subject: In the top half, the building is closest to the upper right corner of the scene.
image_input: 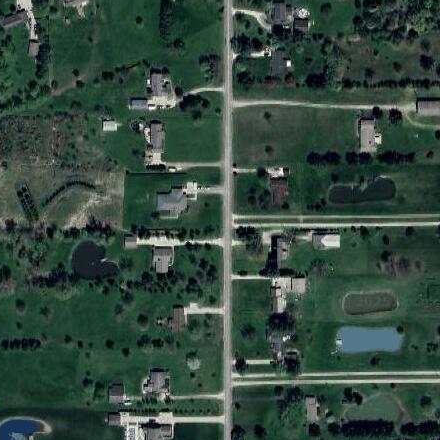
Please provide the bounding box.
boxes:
[417,97,440,115]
